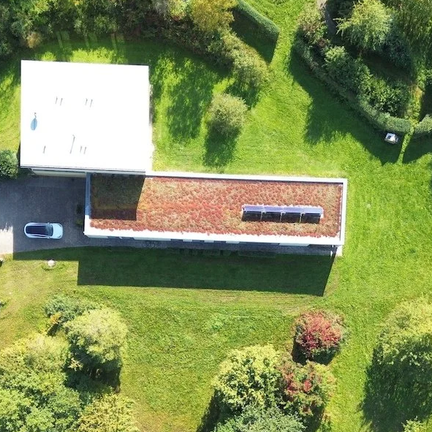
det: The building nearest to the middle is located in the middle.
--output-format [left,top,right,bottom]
[84,177,348,257]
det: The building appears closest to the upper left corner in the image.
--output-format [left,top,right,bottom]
[21,61,152,179]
